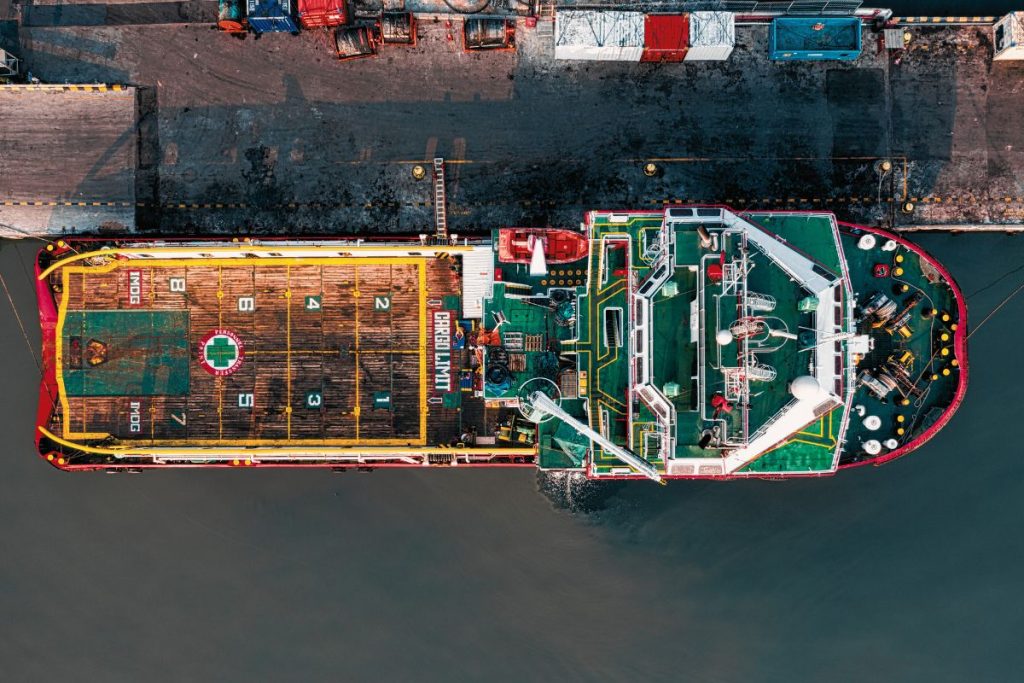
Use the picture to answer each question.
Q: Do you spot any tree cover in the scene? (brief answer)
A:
No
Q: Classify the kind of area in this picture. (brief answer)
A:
port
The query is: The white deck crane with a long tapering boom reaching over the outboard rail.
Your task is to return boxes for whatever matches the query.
[519,374,669,488]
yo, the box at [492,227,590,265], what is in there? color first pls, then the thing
red boat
